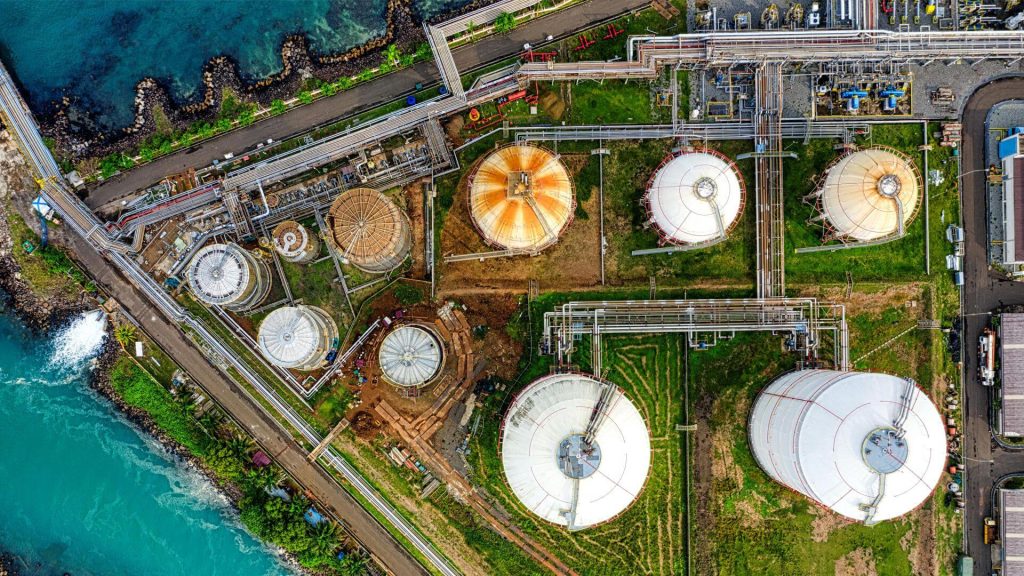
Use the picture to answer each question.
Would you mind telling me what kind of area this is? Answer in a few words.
industrial area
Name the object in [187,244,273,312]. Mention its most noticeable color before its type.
white storage tank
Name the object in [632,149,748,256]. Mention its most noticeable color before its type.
white storage tank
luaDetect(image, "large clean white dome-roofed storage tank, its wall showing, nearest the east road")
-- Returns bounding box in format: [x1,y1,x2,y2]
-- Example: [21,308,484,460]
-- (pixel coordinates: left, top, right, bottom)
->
[746,366,950,527]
